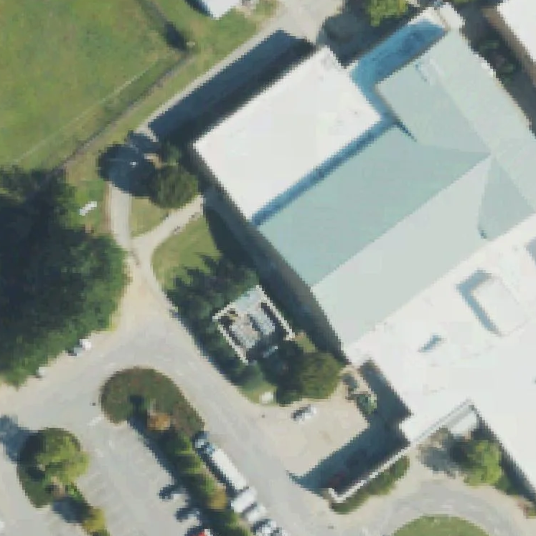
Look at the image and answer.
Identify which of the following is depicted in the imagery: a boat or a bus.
bus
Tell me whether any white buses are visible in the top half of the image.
No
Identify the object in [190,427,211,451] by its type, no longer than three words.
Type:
car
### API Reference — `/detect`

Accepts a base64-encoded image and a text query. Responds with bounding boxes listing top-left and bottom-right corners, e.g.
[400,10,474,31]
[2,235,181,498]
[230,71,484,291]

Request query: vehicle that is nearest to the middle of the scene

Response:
[290,404,315,423]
